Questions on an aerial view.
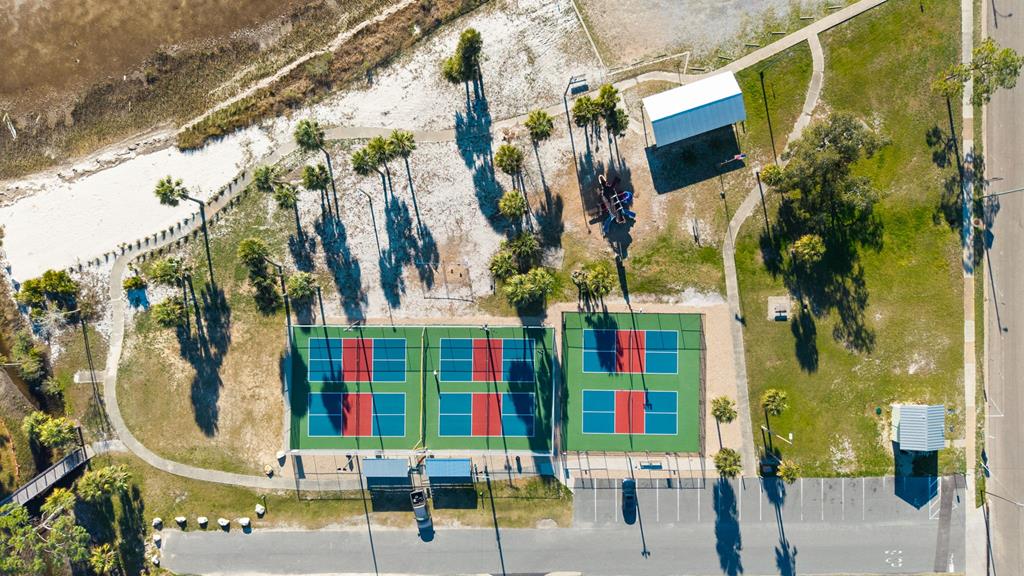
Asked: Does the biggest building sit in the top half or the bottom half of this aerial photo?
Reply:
top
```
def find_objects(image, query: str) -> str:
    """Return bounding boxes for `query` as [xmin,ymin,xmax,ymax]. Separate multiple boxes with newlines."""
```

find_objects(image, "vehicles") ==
[622,478,639,513]
[407,488,432,531]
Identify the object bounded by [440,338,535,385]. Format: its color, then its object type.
blue sports court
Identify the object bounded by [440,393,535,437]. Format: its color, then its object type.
blue sports court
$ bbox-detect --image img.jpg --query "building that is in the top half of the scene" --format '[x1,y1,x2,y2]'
[642,71,746,147]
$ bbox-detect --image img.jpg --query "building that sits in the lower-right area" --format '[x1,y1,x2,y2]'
[890,404,944,451]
